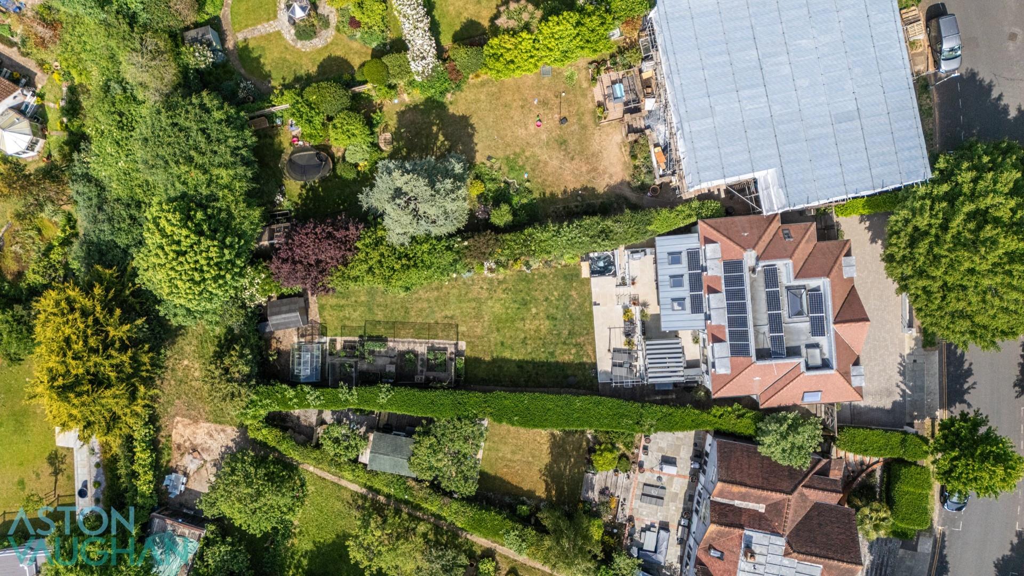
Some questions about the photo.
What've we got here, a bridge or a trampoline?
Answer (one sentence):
The image shows a trampoline.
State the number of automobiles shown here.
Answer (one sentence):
The photo contains 2 automobiles.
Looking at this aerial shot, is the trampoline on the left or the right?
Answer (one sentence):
The trampoline appears in the left half of the scene.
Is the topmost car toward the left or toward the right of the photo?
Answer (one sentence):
The topmost car sits on the right side.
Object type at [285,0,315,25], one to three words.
gazebo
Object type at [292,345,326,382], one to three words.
greenhouse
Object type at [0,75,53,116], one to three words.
house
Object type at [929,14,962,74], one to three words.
car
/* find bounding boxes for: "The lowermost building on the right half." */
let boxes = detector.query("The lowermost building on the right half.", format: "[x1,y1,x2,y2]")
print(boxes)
[674,430,864,576]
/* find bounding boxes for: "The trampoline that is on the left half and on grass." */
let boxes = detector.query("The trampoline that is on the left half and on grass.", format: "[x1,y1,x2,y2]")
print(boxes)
[280,146,333,182]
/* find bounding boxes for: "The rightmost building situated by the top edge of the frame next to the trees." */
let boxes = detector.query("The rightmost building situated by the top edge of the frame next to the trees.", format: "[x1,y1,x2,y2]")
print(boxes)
[652,0,931,217]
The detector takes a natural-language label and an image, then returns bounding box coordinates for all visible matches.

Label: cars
[929,14,962,74]
[938,472,968,513]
